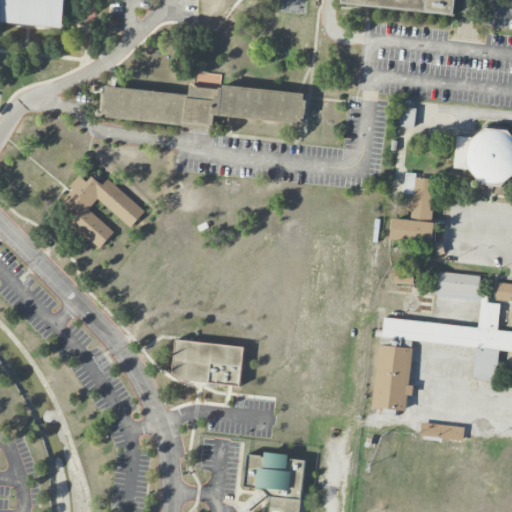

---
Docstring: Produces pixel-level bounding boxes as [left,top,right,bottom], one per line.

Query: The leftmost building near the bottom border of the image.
[244,451,306,512]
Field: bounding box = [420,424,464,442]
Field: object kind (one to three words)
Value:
shed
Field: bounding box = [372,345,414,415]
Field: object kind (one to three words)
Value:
building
